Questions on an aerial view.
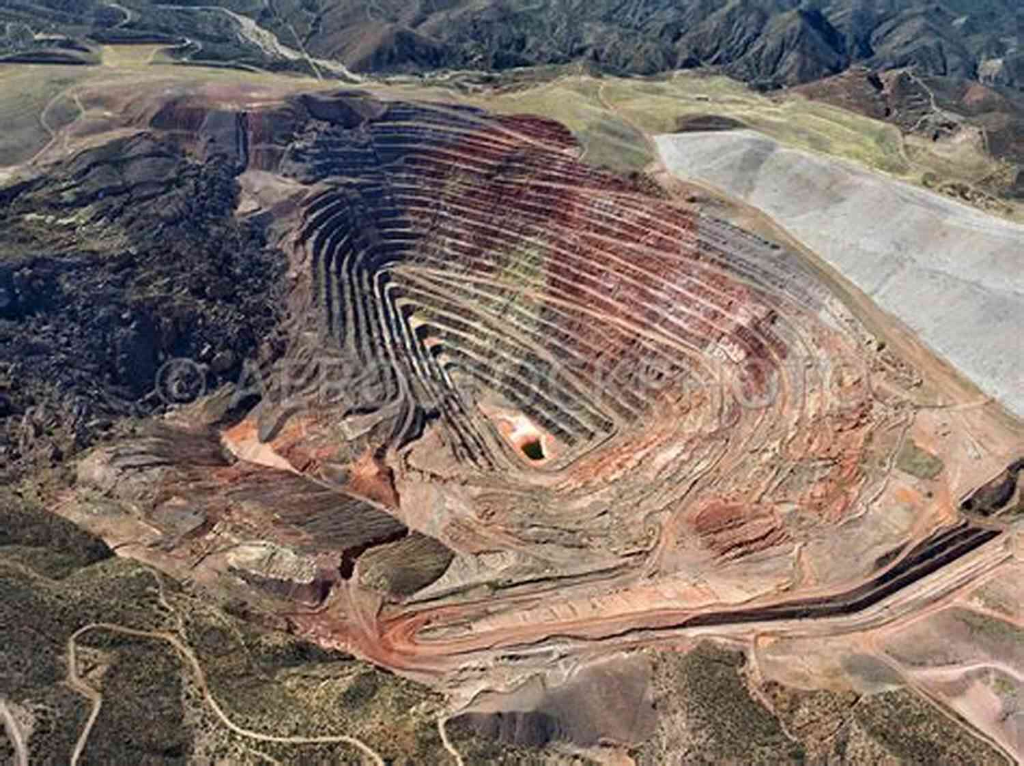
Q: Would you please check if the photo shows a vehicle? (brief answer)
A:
No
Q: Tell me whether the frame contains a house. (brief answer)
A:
No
